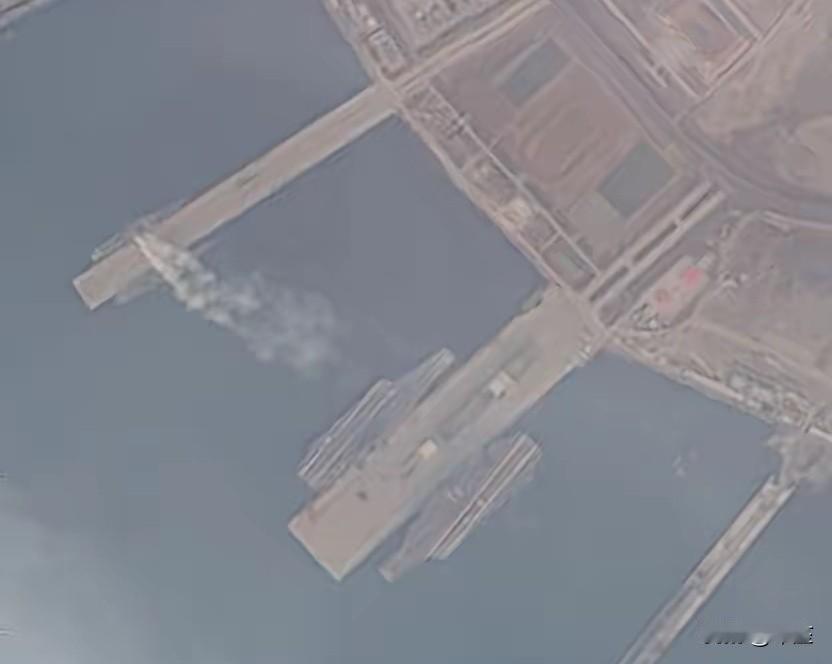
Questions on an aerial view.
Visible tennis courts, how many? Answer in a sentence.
The count of tennis courts is 0.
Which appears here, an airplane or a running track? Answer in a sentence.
This aerial view contains a running track.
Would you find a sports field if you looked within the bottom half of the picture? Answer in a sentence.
No, no sports field is visible within the bottom half of the picture.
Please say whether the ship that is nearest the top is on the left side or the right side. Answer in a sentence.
You can find the ship that is nearest the top on the left side of the picture.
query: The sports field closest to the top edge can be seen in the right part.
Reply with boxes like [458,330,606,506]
[500,41,572,105]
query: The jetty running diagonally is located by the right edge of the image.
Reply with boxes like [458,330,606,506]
[617,475,798,664]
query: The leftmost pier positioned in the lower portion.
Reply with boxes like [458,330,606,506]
[288,283,600,582]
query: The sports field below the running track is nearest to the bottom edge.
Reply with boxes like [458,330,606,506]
[569,191,623,249]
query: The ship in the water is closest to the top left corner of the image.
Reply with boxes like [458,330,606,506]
[89,212,162,264]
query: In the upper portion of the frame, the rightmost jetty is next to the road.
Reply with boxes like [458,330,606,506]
[72,77,401,310]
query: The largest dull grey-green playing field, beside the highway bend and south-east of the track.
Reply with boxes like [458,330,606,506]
[599,143,677,215]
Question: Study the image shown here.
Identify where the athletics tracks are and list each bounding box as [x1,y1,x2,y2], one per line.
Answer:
[519,91,612,182]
